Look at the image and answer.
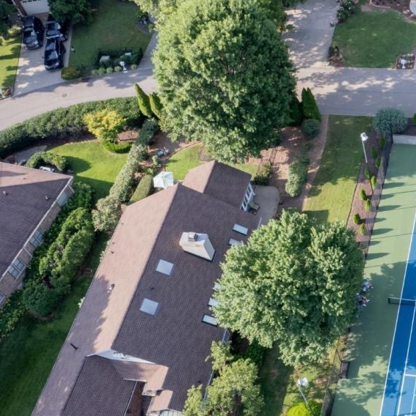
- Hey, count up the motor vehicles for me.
3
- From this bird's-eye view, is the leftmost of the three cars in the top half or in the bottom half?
top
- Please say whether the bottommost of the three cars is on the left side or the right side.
left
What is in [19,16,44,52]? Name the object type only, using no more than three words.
car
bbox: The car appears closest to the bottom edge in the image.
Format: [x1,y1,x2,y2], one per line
[42,38,66,71]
